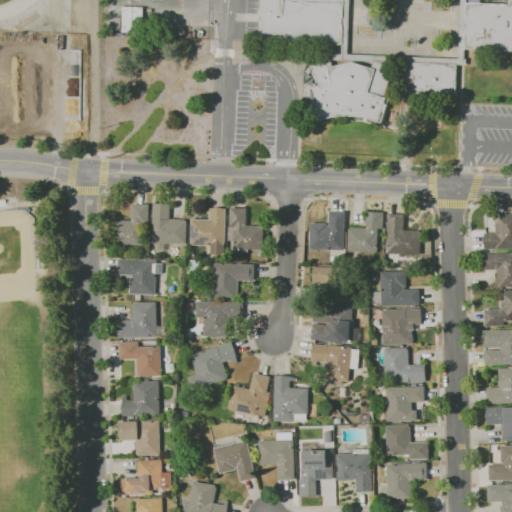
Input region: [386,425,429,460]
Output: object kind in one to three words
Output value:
house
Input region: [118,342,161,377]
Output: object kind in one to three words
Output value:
house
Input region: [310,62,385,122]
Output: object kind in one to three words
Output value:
building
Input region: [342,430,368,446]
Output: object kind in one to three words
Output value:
swimming pool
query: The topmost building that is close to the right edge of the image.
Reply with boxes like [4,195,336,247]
[466,2,512,50]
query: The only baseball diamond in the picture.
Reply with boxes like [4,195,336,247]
[0,209,44,512]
